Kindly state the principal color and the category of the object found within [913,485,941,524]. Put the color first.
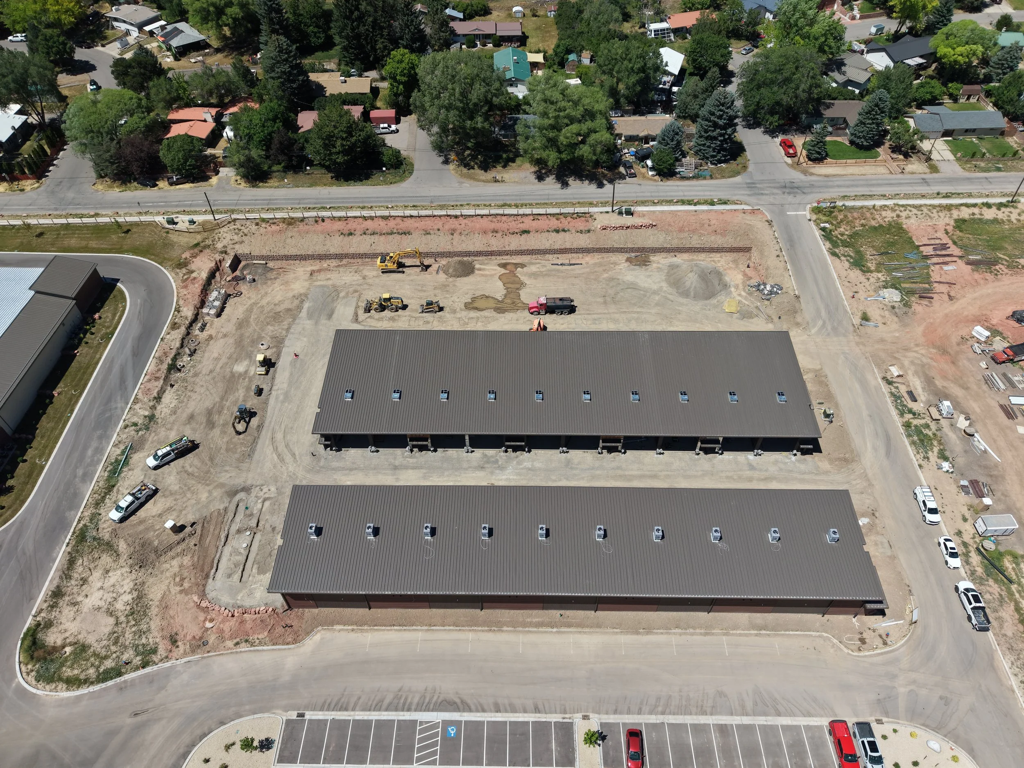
white truck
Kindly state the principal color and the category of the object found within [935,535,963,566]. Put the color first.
white car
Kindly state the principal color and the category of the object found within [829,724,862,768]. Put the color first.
red truck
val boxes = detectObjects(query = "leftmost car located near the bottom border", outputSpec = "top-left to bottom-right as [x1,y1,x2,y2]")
[626,726,649,768]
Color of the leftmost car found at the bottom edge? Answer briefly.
red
